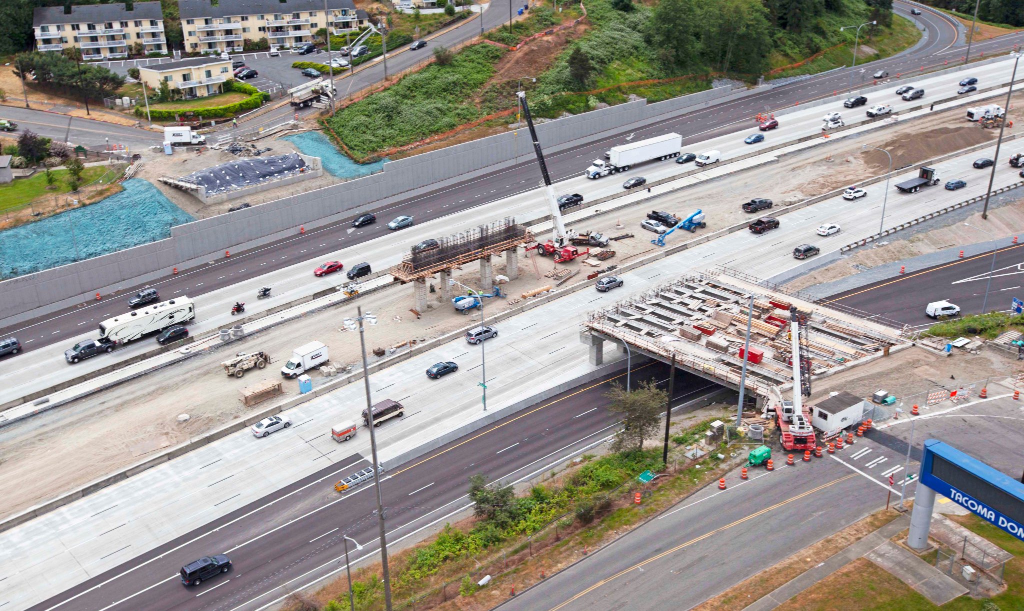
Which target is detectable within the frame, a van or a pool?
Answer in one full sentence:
Looking from above, you can make out a van.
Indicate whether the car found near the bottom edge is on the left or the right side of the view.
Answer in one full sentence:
The car found near the bottom edge appears in the left half of the scene.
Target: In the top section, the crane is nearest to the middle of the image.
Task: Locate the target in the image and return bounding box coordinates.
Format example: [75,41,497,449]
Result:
[518,90,587,270]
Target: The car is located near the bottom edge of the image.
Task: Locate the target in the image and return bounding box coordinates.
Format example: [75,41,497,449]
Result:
[177,553,233,590]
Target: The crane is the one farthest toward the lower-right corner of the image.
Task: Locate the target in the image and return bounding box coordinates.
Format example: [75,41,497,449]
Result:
[757,305,821,454]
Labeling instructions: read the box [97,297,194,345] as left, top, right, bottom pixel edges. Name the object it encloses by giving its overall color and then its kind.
white trailer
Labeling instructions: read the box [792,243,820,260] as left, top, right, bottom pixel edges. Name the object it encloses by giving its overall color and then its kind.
gray car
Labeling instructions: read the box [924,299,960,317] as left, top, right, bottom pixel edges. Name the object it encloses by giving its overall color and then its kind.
white vehicle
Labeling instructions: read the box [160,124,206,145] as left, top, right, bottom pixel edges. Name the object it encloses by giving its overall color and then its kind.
white truck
